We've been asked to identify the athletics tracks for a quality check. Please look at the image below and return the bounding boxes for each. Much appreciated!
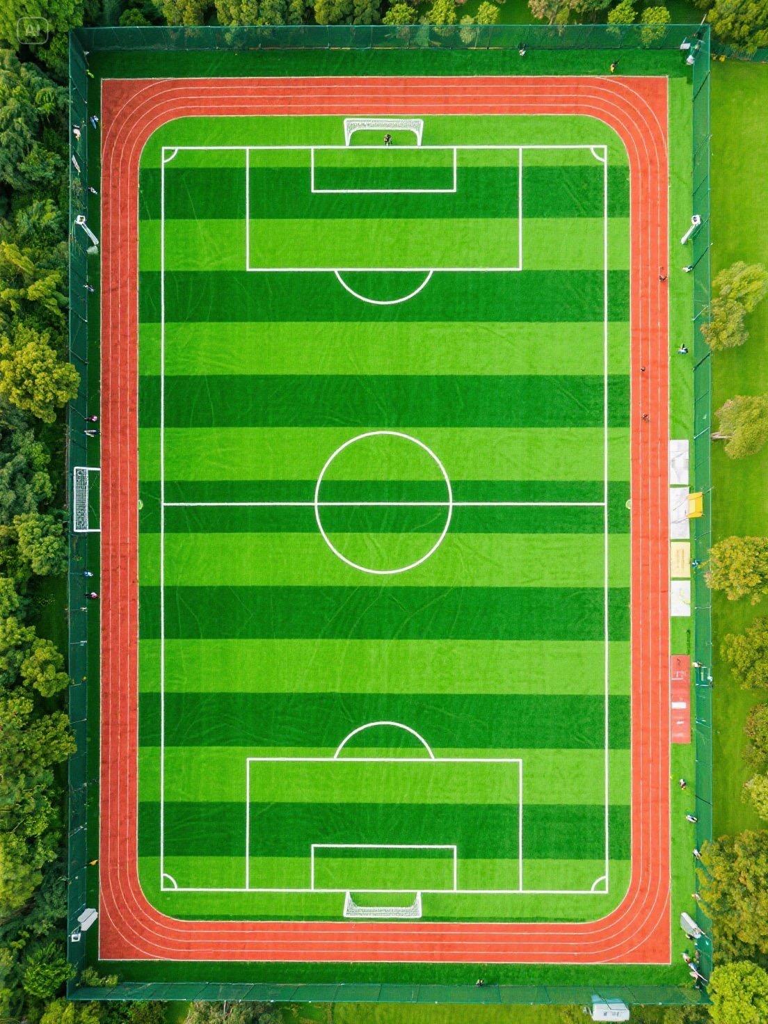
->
[98,76,671,964]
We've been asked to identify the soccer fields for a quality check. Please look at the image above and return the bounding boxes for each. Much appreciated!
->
[137,115,630,921]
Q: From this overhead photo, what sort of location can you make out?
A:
sports ground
